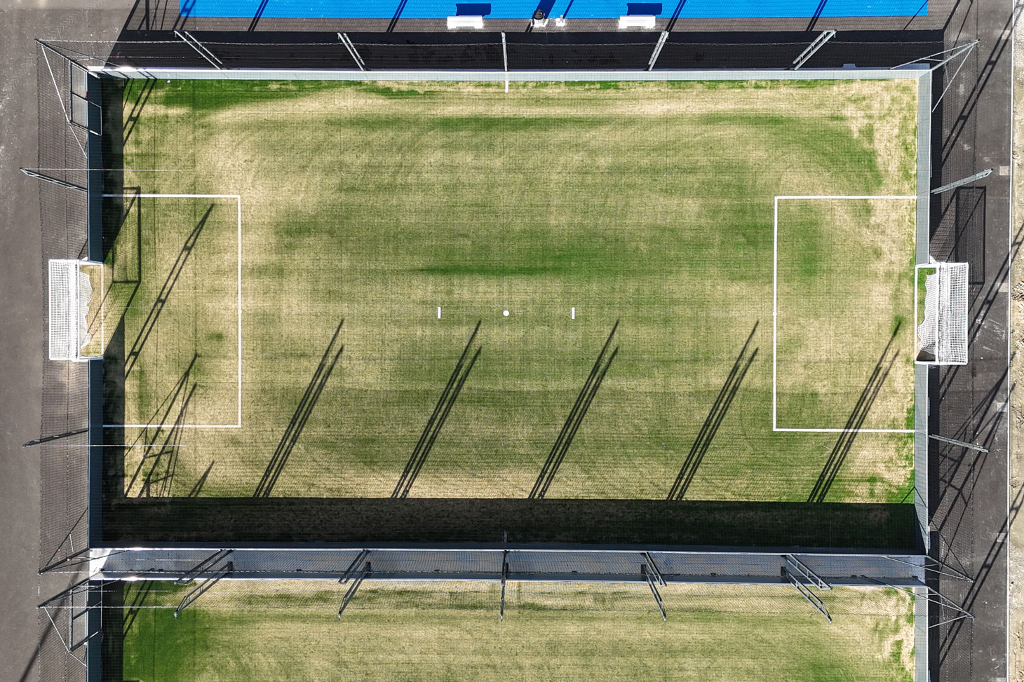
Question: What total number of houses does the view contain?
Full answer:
The photo contains no houses.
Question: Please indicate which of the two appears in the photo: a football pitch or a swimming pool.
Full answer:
Looking from above, you can make out a football pitch.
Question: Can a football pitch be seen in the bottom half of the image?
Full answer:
Yes, in the bottom half of the image there is a football pitch.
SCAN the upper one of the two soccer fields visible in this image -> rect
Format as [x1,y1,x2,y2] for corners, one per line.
[74,79,944,547]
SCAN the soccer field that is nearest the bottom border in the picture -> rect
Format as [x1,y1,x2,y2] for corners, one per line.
[102,580,913,682]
